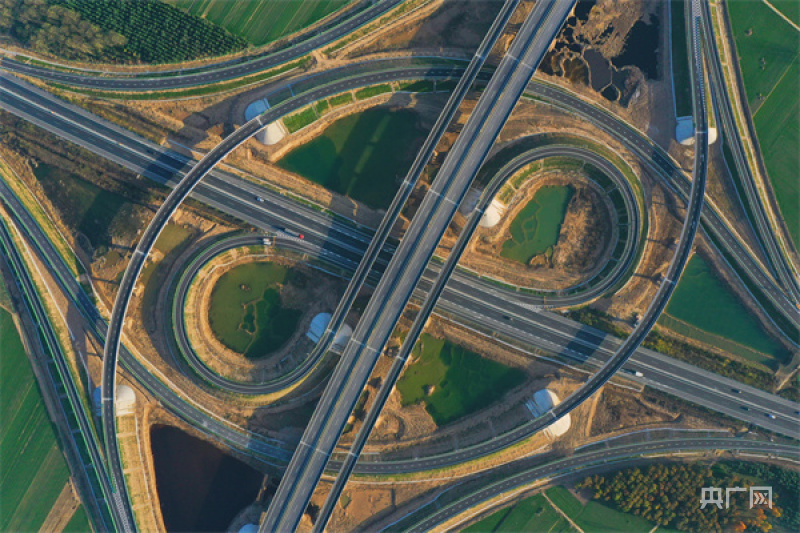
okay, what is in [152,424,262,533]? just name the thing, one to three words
pond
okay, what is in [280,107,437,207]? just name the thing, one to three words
pond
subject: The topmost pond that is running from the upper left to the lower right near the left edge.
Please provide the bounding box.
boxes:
[39,168,124,246]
